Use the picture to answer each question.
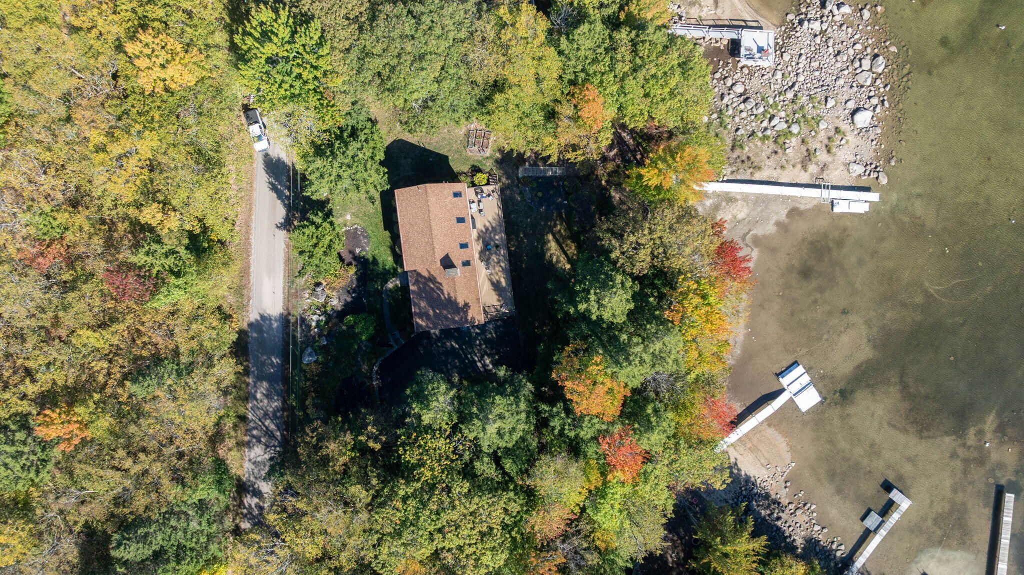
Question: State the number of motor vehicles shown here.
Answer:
one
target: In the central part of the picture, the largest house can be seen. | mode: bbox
[392,181,485,332]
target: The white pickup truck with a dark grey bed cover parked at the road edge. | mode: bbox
[243,106,271,155]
